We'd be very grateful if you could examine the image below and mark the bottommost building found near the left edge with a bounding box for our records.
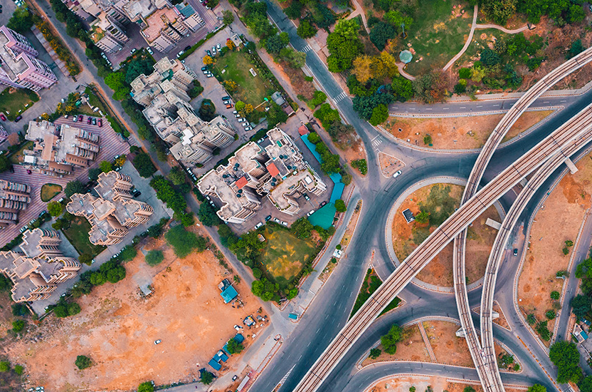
[0,225,86,305]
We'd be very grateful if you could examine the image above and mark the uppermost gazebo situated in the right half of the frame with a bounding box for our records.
[399,50,412,65]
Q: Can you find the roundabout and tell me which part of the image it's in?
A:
right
